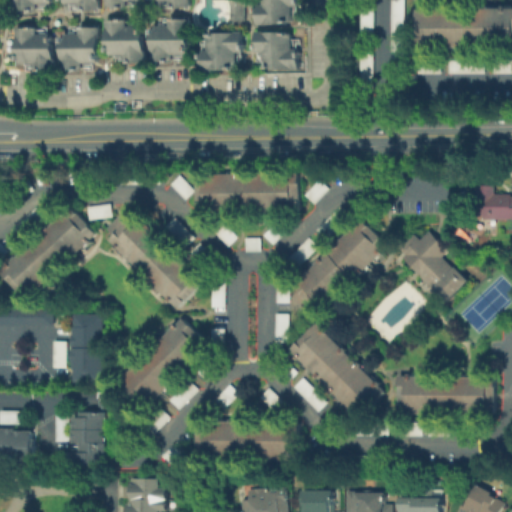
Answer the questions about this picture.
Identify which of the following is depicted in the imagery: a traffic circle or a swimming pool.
swimming pool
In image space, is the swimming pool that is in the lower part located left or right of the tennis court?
to the left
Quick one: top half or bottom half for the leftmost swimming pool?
top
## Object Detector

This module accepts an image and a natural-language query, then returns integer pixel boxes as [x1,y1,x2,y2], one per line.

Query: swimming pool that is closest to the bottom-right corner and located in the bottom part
[371,282,426,342]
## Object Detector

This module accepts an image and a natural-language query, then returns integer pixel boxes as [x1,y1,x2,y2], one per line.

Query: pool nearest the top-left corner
[194,0,230,28]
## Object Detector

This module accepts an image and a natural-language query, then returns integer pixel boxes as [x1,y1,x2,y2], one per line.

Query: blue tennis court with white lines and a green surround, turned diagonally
[454,266,512,345]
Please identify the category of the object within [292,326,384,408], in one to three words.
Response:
building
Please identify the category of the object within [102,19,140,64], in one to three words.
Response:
house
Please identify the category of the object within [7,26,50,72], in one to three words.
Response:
house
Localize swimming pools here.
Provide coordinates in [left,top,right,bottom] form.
[371,282,426,342]
[194,0,230,28]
